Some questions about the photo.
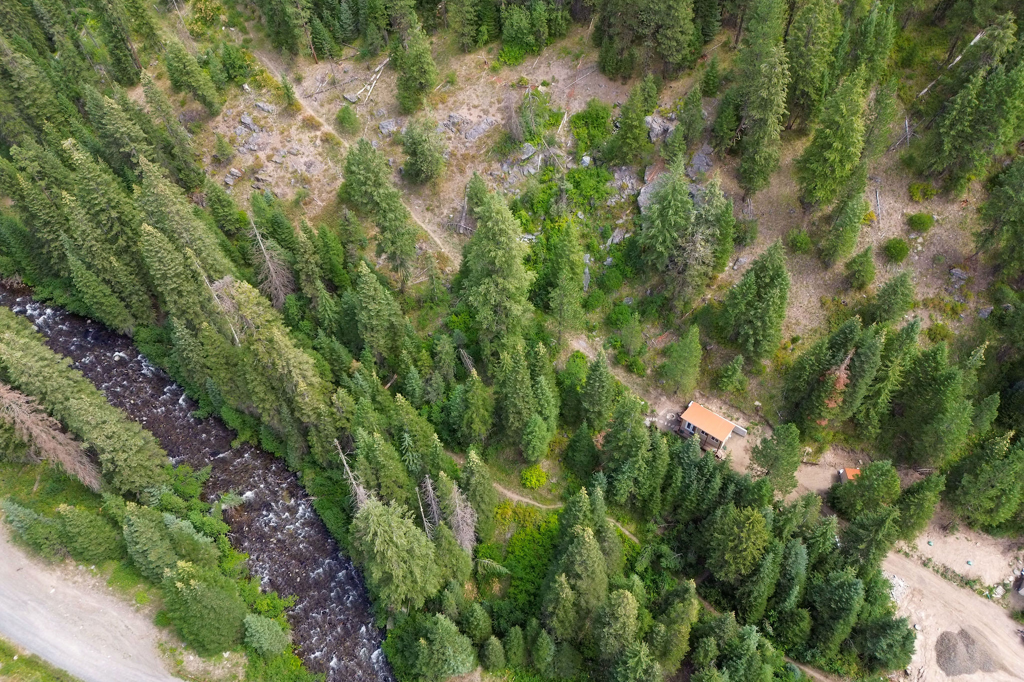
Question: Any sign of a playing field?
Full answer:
No, I find no playing field anywhere in the image.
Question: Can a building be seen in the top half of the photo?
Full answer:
No, in the top half of the photo there is no building.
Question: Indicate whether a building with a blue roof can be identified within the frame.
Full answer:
No, no building with a blue roof is visible in the view.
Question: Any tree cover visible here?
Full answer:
Yes, tree cover shows up in the scene.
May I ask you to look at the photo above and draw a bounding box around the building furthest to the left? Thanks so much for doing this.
[676,401,737,460]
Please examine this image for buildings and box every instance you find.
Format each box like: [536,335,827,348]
[841,466,871,491]
[676,401,737,460]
